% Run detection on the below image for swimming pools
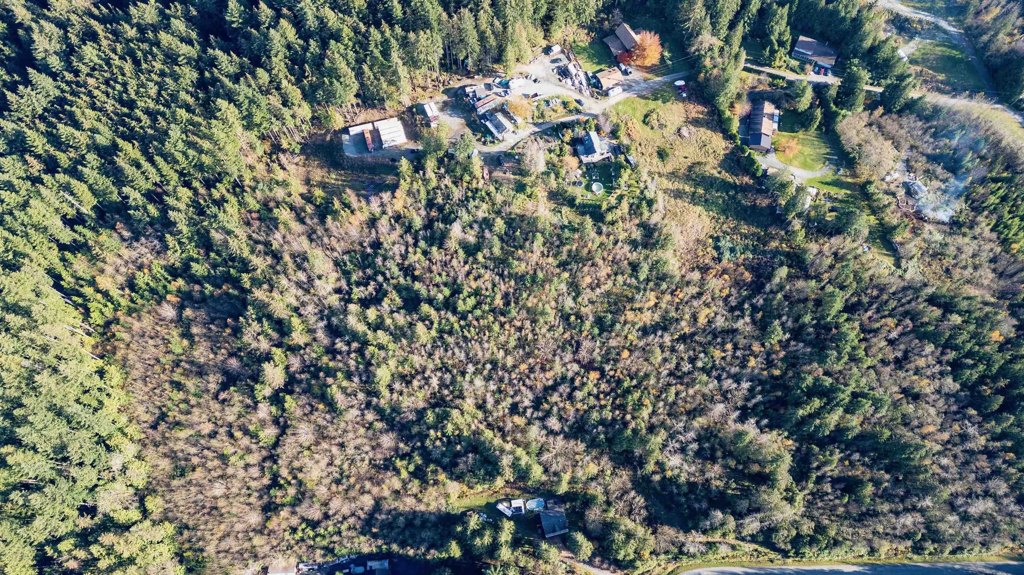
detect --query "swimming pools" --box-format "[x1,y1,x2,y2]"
[527,498,544,511]
[351,565,365,575]
[592,182,603,194]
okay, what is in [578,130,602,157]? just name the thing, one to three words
house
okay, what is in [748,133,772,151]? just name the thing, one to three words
building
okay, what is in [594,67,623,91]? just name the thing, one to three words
house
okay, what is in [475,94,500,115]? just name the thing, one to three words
barn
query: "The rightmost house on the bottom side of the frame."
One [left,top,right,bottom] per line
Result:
[540,511,569,539]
